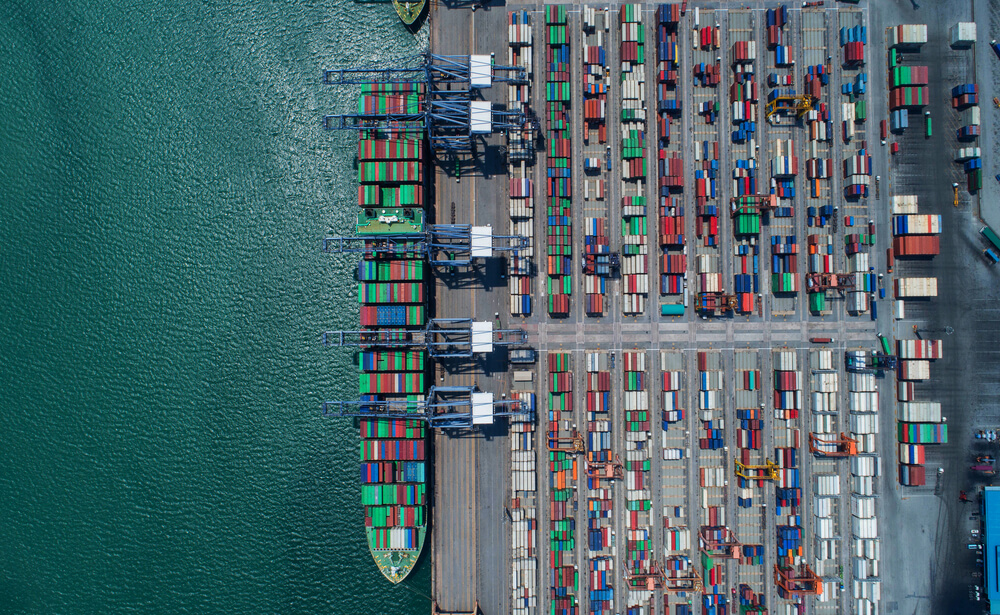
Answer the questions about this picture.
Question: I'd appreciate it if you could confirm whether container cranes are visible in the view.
Yes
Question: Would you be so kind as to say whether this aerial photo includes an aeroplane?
No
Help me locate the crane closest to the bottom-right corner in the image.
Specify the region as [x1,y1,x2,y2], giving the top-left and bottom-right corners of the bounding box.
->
[774,563,825,594]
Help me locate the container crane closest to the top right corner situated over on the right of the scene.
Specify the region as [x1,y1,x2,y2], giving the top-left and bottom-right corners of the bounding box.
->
[765,96,815,123]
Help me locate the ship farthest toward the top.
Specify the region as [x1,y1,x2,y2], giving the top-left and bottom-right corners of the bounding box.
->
[391,0,427,25]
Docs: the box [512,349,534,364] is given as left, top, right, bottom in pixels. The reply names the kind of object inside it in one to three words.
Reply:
building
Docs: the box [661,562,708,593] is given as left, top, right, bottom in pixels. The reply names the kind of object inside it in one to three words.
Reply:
container crane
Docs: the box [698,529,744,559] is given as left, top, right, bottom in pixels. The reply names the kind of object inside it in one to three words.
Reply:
container crane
